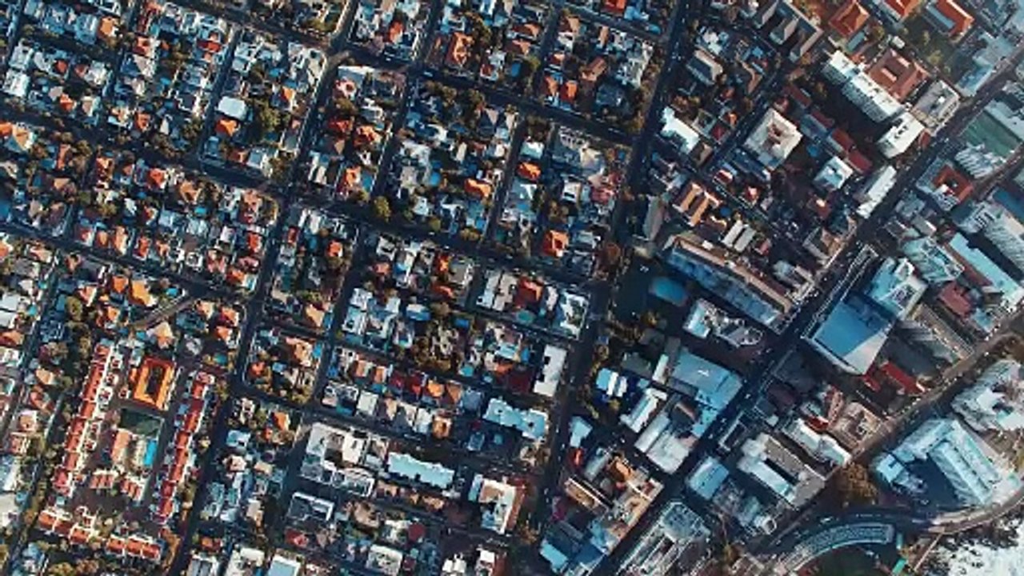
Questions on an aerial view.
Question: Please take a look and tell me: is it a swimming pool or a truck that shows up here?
swimming pool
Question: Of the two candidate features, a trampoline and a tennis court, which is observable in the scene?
tennis court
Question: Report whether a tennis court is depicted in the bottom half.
Yes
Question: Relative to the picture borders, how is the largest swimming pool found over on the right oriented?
diagonally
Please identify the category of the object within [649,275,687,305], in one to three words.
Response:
swimming pool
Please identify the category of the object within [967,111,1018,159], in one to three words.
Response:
tennis court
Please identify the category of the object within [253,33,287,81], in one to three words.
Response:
house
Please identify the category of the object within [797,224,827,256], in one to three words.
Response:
building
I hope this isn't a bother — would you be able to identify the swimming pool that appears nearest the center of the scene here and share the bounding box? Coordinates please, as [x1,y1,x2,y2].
[515,309,534,322]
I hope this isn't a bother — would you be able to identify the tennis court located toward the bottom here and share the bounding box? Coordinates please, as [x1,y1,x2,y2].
[119,401,164,434]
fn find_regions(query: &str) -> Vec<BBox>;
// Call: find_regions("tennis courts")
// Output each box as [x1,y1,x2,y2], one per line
[119,401,164,434]
[967,111,1018,159]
